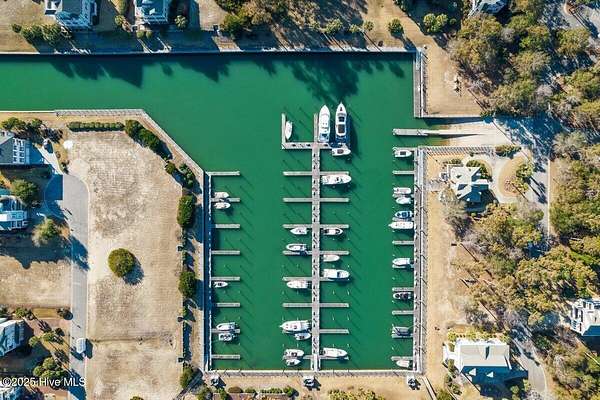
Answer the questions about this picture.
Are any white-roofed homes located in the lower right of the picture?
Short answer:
Yes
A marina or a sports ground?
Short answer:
marina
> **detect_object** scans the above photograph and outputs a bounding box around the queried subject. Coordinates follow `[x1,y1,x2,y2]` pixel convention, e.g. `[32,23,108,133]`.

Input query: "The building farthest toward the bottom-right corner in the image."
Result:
[568,299,600,336]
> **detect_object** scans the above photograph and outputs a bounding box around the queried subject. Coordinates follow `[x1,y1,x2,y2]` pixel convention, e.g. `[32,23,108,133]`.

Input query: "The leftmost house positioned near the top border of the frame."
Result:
[40,0,101,30]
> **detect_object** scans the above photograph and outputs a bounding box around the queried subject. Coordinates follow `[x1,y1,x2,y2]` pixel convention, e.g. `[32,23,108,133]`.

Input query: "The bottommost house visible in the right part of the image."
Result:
[434,333,515,380]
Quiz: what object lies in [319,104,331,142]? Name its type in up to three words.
boat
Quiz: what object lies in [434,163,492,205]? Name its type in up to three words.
house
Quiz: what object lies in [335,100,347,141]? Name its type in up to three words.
boat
